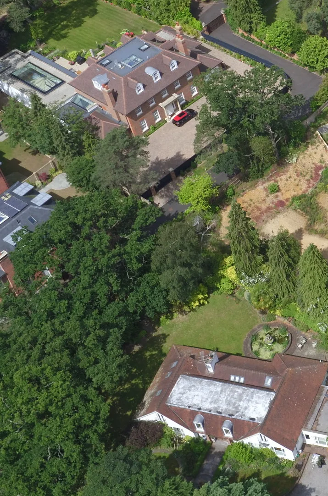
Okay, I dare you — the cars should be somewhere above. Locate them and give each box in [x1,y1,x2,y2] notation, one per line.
[172,109,198,128]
